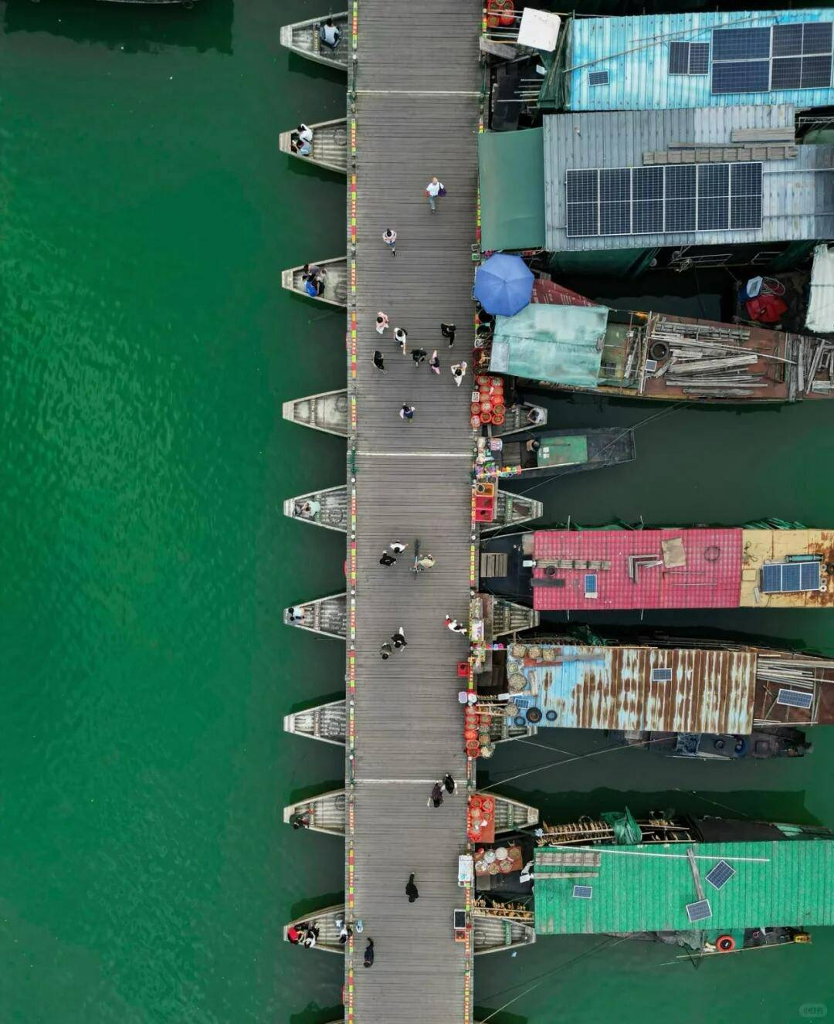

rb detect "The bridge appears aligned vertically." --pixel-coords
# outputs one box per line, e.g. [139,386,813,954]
[347,0,488,1024]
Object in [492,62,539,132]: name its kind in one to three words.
boat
